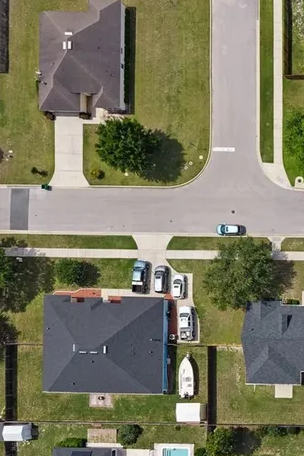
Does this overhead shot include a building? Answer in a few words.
Yes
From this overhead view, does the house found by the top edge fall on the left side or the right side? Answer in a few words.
left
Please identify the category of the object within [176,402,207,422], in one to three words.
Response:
shed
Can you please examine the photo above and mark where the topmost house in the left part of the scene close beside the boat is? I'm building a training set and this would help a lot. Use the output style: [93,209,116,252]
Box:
[43,295,169,394]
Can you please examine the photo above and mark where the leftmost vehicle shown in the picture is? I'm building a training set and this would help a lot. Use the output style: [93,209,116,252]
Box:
[131,258,148,292]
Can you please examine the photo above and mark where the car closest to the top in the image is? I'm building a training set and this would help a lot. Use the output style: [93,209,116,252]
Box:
[217,223,246,235]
